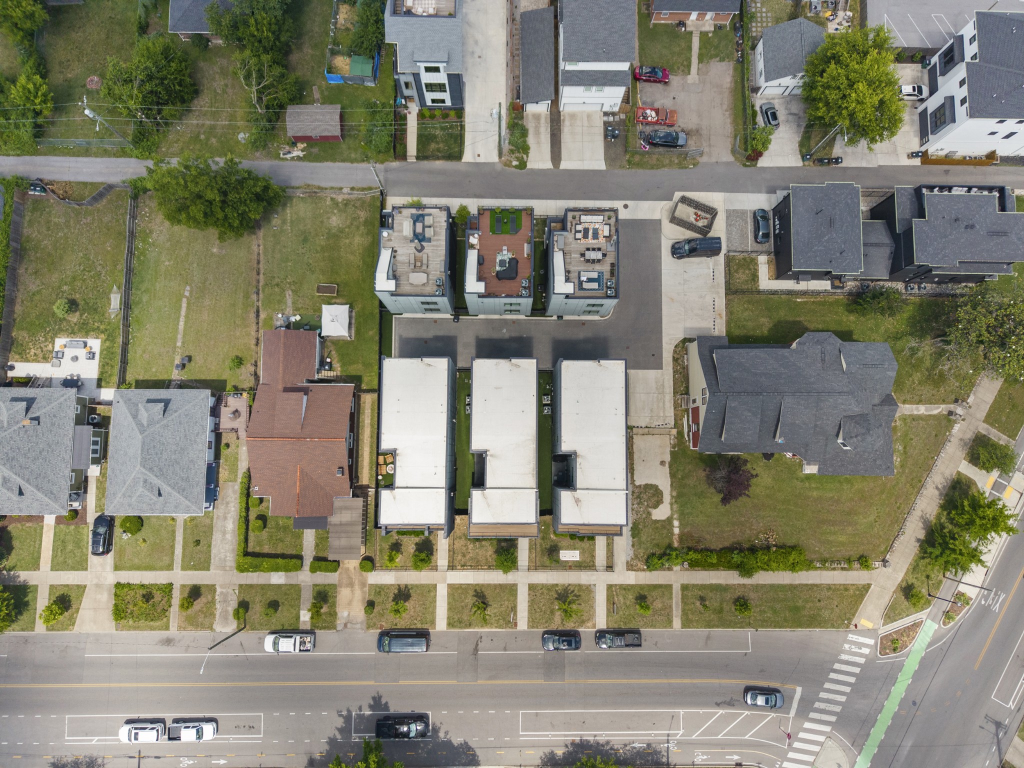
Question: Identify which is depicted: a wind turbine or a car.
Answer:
car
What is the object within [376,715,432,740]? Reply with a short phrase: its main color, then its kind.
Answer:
black truck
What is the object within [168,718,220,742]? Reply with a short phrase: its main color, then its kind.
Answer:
white truck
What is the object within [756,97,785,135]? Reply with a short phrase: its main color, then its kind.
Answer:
gray car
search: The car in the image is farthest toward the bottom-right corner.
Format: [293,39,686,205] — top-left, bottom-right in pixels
[742,687,784,710]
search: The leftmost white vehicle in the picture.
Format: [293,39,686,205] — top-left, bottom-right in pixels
[119,720,166,744]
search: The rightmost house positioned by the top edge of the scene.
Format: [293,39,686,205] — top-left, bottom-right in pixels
[921,10,1024,150]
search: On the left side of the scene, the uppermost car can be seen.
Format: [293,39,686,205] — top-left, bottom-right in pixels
[90,514,116,558]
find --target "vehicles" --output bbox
[119,720,166,744]
[90,514,116,558]
[595,628,643,650]
[742,687,784,710]
[633,65,670,86]
[671,236,723,259]
[751,209,771,245]
[541,630,582,651]
[648,129,687,149]
[376,715,432,740]
[168,718,220,742]
[264,631,318,654]
[378,631,431,653]
[634,106,678,127]
[756,97,785,135]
